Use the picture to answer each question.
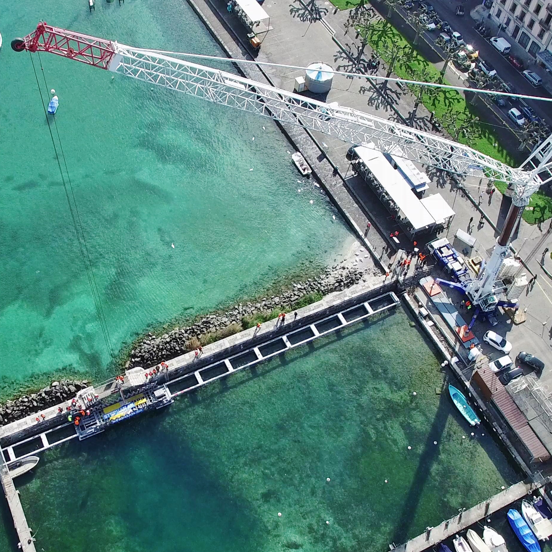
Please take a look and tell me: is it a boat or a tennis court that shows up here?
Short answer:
boat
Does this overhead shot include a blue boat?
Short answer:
Yes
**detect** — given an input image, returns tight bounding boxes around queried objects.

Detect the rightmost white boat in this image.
[521,499,552,552]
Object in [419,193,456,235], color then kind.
white tent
